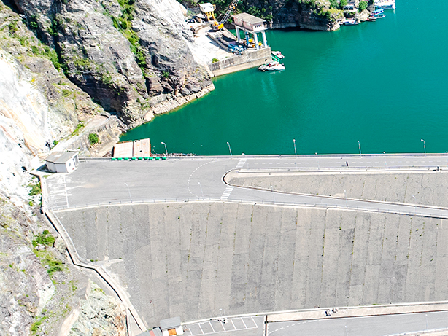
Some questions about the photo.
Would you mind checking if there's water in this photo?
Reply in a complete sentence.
Yes, there's water in this view.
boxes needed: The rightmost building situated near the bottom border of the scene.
[158,313,182,336]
